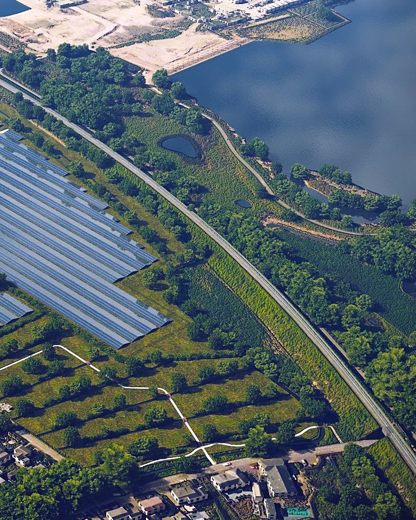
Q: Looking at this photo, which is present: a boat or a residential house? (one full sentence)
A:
The one in the frame is a residential house.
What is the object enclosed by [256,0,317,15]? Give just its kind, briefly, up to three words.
house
